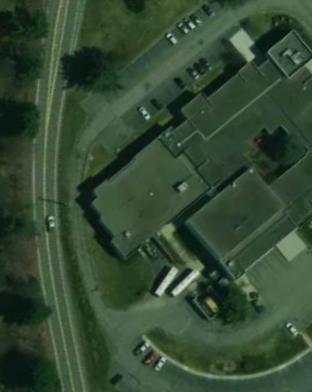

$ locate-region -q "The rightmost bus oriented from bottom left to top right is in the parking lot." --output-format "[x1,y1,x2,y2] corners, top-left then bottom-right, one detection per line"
[172,269,200,294]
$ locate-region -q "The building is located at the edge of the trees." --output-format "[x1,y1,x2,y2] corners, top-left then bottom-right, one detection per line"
[89,31,312,279]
